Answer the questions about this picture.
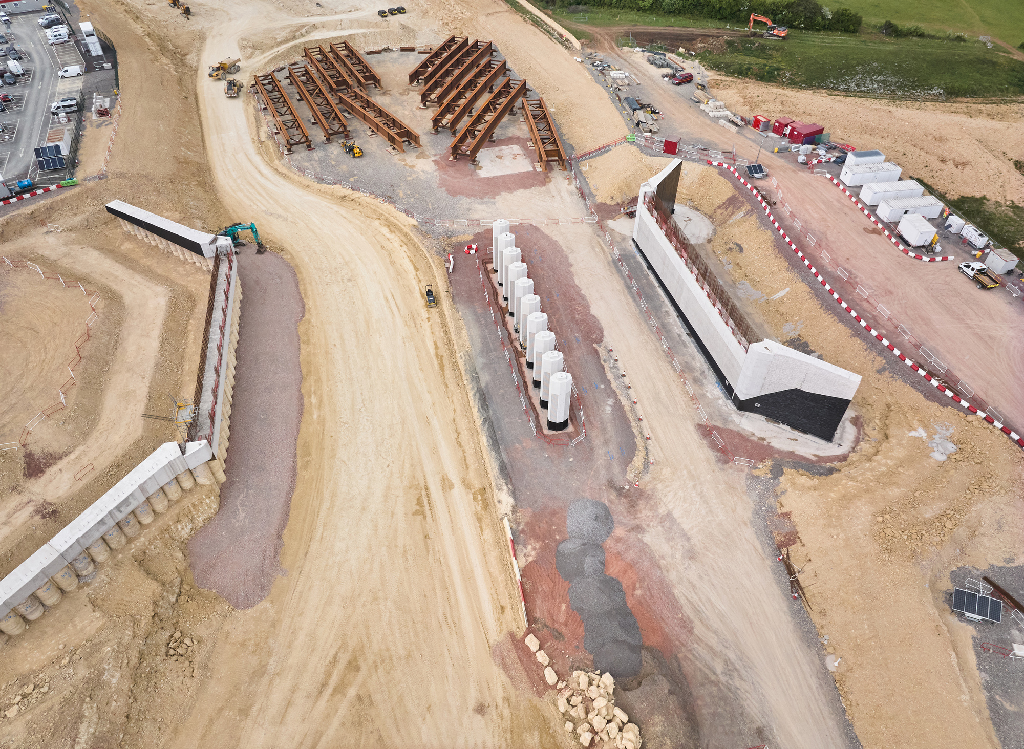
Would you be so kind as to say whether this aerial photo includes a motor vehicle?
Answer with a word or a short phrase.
Yes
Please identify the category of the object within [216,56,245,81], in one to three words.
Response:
truck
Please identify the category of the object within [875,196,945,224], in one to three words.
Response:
building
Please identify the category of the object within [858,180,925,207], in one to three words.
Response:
building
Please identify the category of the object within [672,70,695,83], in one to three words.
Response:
vehicle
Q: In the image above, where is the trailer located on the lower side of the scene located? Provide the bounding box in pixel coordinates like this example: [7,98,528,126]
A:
[945,574,1002,628]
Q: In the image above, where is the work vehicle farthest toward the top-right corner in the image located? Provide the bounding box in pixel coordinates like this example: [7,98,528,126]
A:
[748,11,790,42]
